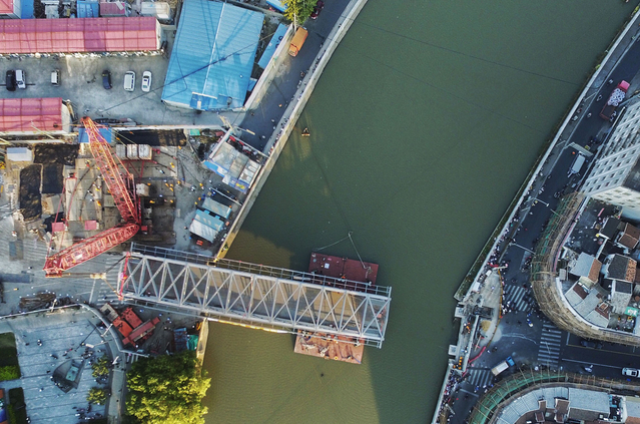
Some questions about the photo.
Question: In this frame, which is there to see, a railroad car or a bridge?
bridge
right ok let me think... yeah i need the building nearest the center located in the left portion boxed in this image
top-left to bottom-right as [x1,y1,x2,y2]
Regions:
[231,157,261,193]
